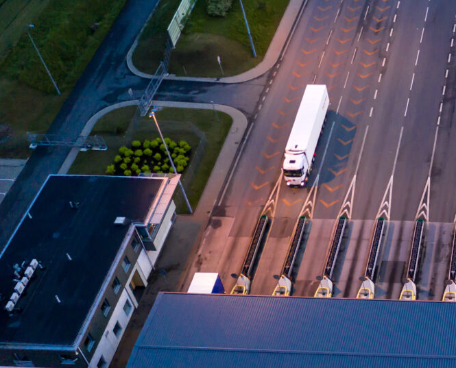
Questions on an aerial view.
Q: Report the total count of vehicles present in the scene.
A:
2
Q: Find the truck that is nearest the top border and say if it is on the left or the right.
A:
right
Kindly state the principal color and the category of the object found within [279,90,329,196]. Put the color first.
white truck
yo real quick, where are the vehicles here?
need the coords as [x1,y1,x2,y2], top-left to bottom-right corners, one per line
[188,272,225,292]
[279,90,329,196]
